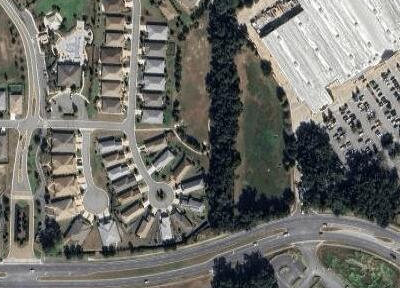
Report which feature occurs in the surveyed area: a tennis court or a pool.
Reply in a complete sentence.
Looking from above, you can make out a pool.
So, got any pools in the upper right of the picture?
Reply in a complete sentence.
No, there's no pool to be seen in the upper right of the picture.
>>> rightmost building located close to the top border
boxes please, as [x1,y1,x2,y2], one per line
[262,0,400,113]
